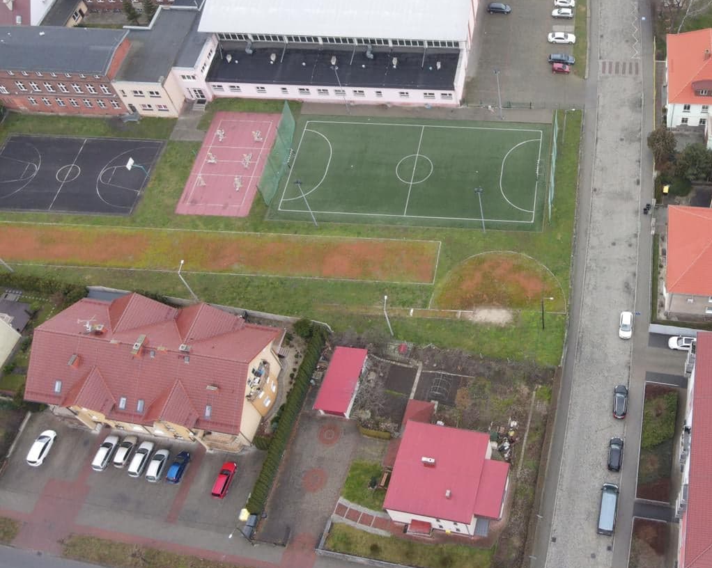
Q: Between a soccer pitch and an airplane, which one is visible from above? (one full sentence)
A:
Looking from above, you can make out a soccer pitch.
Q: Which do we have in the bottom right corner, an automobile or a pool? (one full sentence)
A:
It is an automobile that can be seen in the bottom right corner.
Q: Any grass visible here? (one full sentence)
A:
Yes, some grass is visible.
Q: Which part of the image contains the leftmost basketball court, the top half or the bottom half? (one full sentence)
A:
The leftmost basketball court is in the top half of the image.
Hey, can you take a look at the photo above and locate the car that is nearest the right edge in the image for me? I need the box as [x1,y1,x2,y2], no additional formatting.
[668,334,692,351]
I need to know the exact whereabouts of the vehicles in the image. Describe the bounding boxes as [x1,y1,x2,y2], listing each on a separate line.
[85,434,124,472]
[552,7,574,18]
[139,448,174,483]
[606,434,625,472]
[551,62,574,74]
[122,441,159,479]
[554,0,575,7]
[107,434,142,469]
[549,32,575,44]
[668,334,692,351]
[205,460,242,501]
[23,432,59,466]
[612,383,629,418]
[619,310,634,339]
[161,450,195,485]
[548,52,574,64]
[599,483,618,532]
